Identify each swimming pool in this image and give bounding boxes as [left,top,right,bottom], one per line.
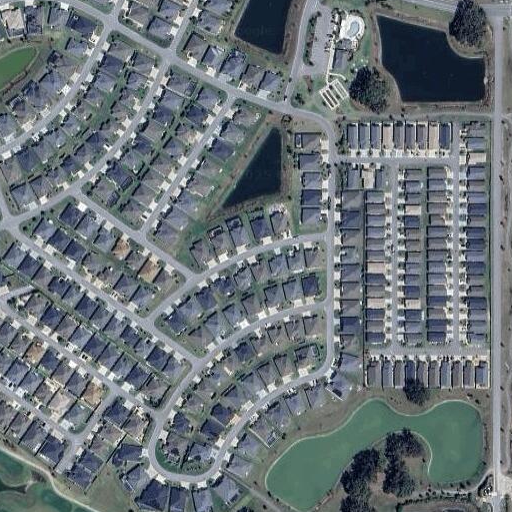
[338,15,364,41]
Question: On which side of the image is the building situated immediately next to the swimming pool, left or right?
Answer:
right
